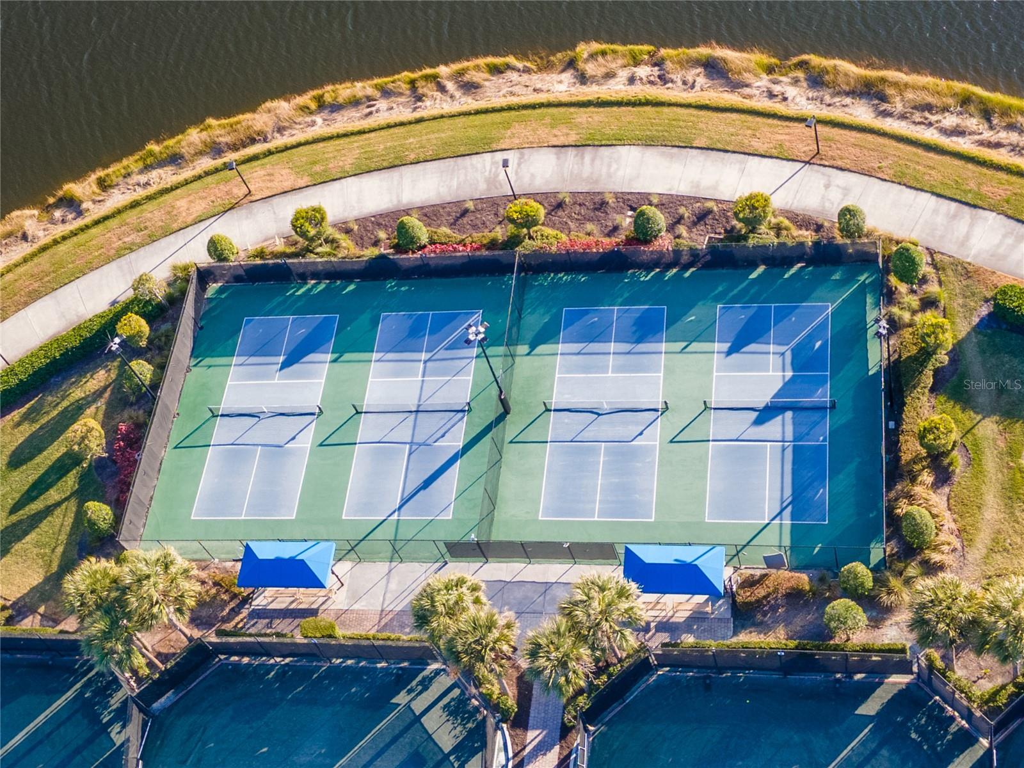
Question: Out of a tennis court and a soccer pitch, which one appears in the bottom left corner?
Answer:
tennis court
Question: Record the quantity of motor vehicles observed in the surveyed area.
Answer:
none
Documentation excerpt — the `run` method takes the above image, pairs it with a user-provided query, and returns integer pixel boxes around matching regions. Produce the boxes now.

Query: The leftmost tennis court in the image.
[0,654,151,768]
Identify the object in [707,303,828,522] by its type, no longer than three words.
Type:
sports court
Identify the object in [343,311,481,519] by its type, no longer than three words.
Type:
sports court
